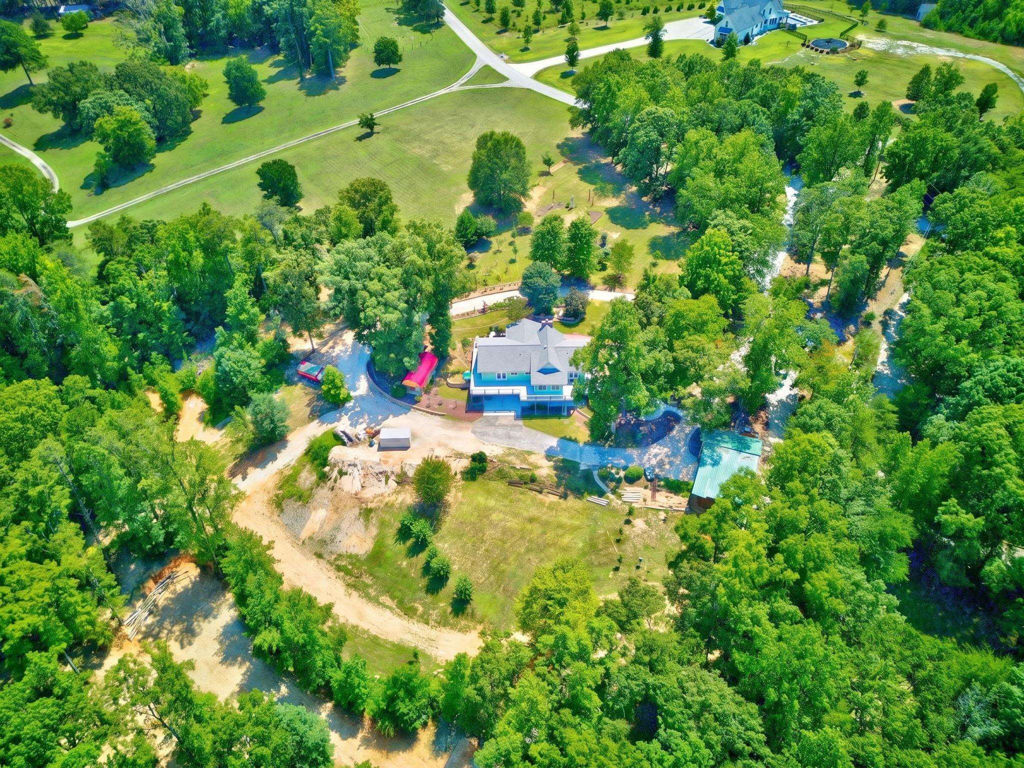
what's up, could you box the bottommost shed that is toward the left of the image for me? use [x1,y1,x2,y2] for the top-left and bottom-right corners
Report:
[378,428,412,448]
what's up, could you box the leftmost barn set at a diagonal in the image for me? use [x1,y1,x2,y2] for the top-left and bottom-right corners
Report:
[402,347,442,396]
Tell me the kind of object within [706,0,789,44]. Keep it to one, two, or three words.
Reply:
house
